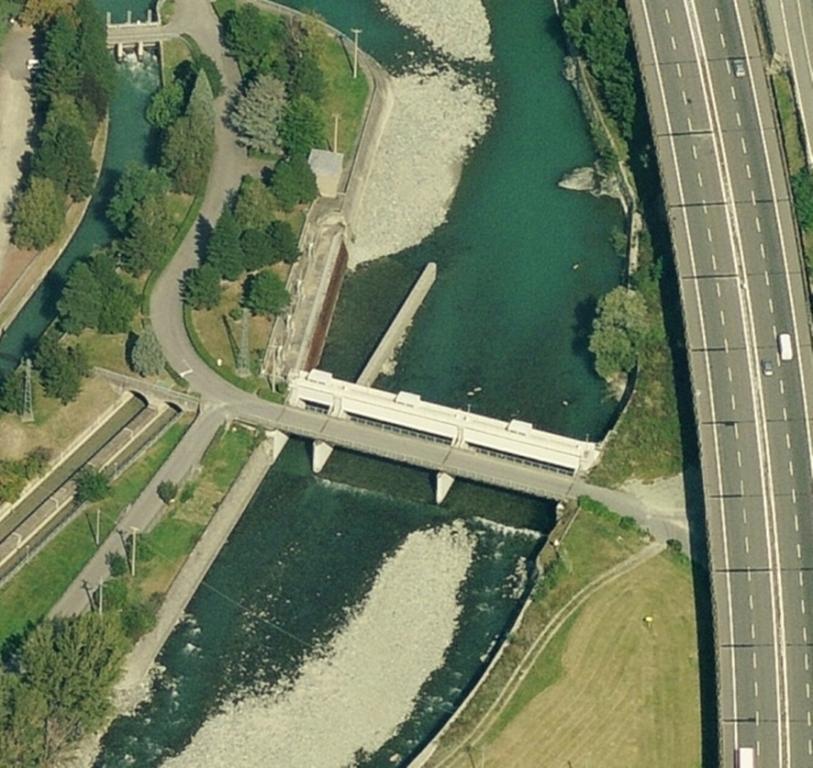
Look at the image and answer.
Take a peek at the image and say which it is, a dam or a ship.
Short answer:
dam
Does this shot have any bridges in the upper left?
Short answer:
Yes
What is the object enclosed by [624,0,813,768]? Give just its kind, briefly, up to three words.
bridge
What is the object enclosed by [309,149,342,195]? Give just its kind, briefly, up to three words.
shed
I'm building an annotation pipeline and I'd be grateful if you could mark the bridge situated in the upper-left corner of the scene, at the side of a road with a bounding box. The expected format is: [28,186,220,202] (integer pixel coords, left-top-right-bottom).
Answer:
[103,12,182,73]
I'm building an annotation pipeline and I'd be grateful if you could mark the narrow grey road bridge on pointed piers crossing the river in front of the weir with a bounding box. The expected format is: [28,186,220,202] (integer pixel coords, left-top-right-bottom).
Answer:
[260,405,577,504]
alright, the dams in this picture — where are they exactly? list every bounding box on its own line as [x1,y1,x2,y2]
[275,362,599,485]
